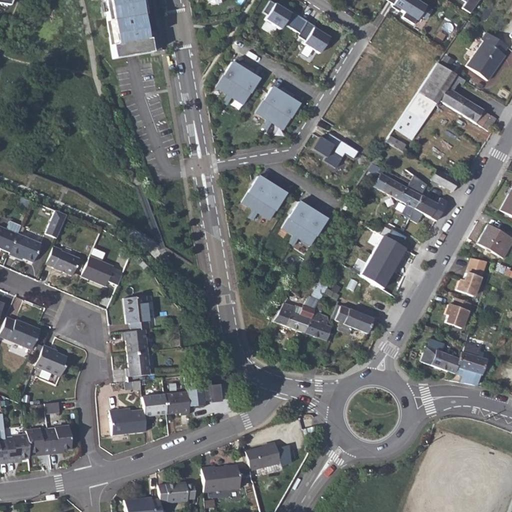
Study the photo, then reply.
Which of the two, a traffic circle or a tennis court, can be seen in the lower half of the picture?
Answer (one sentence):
The feature located in the lower half of the picture is a traffic circle.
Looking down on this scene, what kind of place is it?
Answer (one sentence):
This image shows a residential area.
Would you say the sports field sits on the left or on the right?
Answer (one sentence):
You can find the sports field on the right side of the picture.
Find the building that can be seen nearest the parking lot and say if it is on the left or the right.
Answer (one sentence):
The building that can be seen nearest the parking lot sits on the left side.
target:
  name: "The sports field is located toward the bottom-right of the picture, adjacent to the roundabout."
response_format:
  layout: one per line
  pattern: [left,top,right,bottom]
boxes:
[404,431,512,512]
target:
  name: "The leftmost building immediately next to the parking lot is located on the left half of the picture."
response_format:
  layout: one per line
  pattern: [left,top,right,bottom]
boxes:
[98,0,156,60]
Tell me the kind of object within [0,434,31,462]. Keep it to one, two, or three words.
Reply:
house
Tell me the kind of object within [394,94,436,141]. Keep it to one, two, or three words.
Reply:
building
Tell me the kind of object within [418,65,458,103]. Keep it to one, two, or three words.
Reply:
building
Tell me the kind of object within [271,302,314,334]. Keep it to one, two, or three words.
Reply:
house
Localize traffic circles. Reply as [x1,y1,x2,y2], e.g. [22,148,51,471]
[326,367,419,460]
